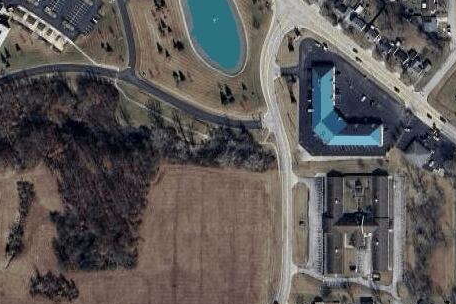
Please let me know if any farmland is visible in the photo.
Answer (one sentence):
Yes, farmland shows up in the scene.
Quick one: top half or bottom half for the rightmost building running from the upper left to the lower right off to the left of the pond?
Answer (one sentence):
Seen from above, the rightmost building running from the upper left to the lower right off to the left of the pond lies in the top half of the view.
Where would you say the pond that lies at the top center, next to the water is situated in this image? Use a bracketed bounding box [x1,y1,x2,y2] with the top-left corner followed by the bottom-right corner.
[187,0,239,69]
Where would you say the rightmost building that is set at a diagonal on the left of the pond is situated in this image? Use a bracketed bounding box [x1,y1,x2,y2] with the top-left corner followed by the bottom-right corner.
[7,6,73,52]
